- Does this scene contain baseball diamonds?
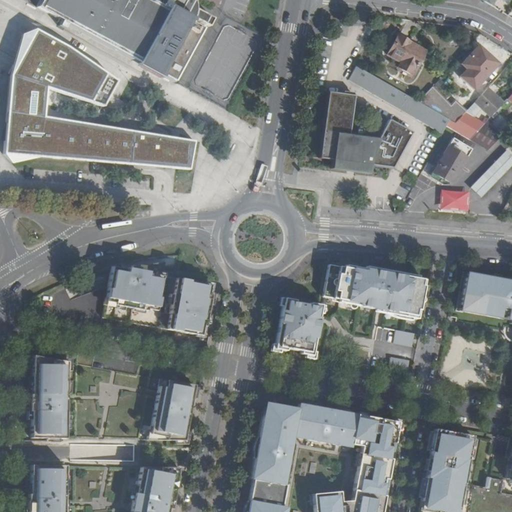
No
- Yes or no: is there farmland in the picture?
No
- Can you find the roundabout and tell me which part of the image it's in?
center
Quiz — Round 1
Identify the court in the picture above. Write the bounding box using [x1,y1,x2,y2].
[194,24,255,101]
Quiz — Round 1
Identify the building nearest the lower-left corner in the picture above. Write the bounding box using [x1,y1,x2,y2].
[28,462,70,512]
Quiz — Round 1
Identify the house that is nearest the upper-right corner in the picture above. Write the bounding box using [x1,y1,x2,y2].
[459,45,503,94]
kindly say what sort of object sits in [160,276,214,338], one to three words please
building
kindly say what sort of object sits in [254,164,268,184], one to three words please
vehicle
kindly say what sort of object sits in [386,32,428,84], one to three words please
house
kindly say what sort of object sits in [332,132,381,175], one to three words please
building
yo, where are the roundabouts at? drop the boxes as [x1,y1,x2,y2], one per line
[218,198,301,280]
